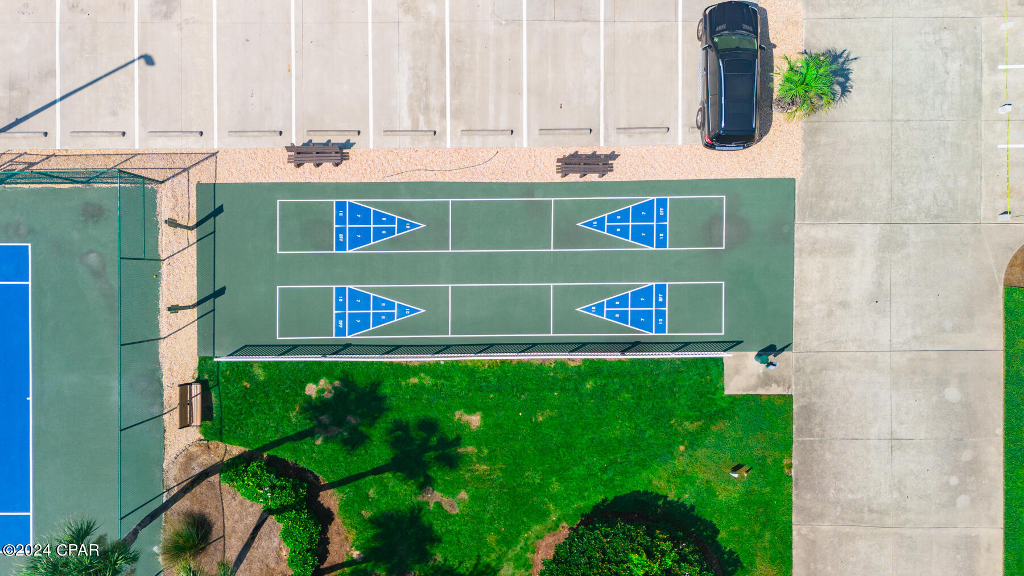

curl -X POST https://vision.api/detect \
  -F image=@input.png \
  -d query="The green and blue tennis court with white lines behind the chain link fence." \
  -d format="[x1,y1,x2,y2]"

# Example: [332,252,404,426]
[0,185,163,576]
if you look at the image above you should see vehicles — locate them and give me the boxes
[696,0,768,151]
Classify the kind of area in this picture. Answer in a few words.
sports ground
